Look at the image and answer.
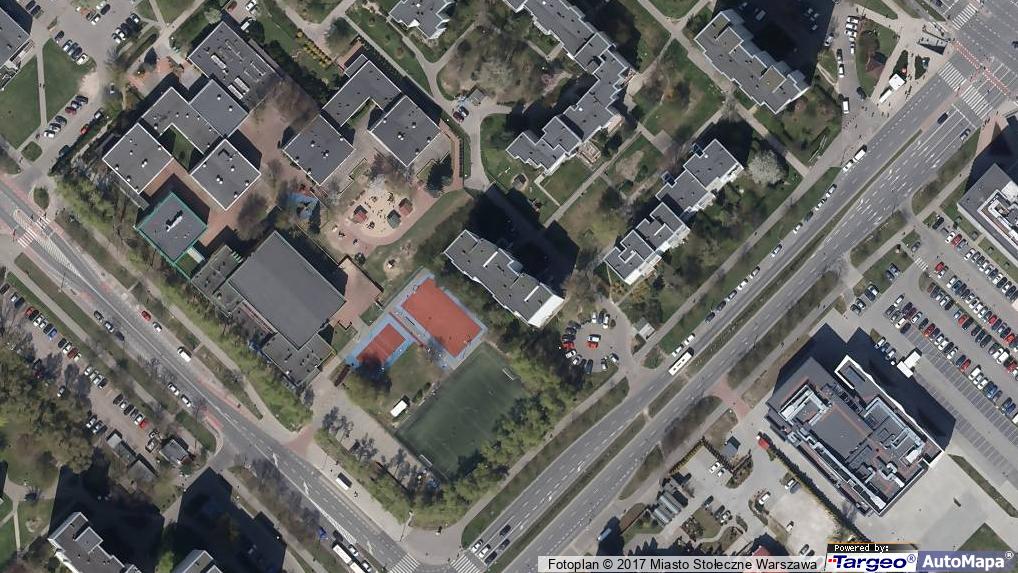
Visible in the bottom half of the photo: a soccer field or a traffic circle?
soccer field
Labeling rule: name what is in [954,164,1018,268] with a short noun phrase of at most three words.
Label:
building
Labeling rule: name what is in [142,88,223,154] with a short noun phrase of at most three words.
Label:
building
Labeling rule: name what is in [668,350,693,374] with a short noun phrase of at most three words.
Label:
bus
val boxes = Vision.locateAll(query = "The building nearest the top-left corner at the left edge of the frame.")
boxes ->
[0,5,35,90]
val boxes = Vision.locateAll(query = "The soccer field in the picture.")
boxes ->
[396,342,534,482]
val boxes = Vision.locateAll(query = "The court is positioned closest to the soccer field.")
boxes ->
[391,267,488,368]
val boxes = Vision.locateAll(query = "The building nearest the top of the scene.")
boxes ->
[390,0,451,44]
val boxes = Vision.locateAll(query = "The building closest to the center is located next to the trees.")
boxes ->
[444,230,560,327]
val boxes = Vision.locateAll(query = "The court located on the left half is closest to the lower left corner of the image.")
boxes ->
[345,313,415,378]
